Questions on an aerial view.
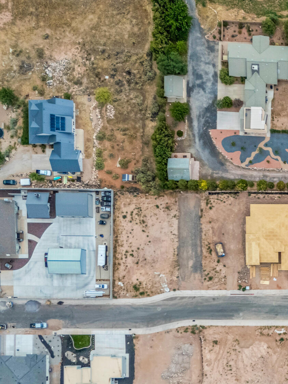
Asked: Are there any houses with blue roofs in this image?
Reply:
Yes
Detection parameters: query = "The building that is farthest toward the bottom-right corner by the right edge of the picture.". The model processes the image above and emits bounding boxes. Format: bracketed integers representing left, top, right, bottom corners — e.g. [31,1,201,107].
[245,205,288,271]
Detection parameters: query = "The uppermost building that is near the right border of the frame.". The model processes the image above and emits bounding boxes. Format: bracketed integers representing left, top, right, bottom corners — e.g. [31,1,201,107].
[226,34,288,137]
